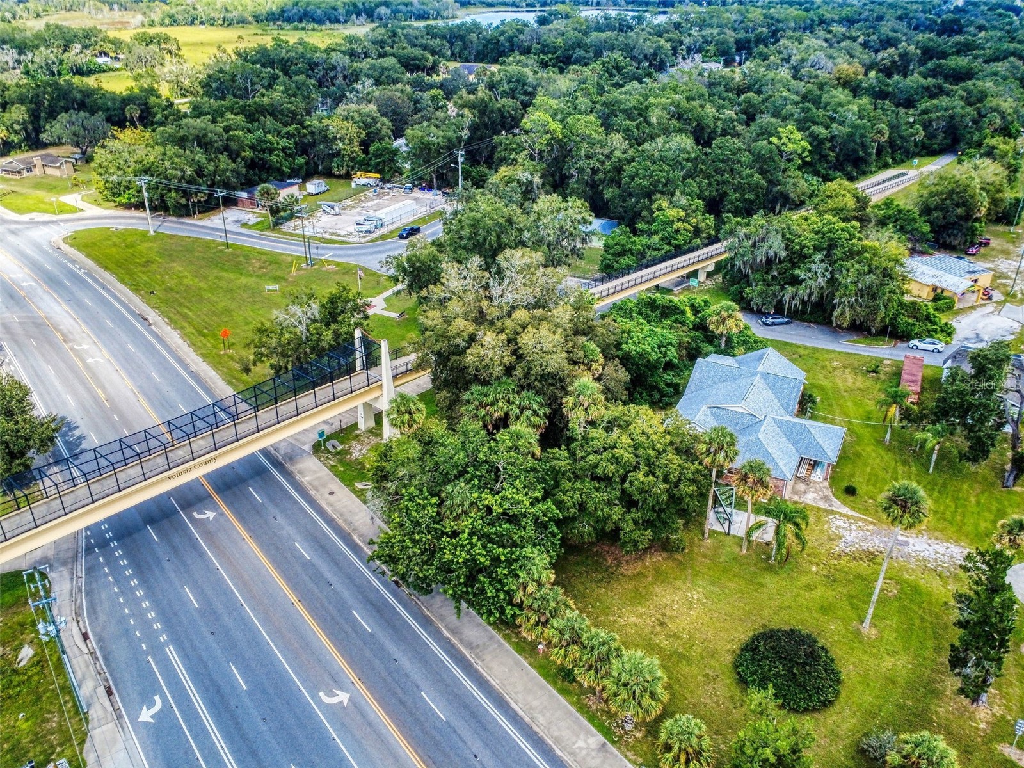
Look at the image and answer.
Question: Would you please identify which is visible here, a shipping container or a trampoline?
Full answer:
Visible in the photo is a shipping container.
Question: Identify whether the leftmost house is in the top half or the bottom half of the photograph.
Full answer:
The leftmost house is in the top half of the image.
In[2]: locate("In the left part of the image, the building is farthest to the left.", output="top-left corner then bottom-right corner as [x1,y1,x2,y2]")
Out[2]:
[0,151,76,185]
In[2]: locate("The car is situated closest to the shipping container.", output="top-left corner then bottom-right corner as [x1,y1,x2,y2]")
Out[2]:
[909,339,946,354]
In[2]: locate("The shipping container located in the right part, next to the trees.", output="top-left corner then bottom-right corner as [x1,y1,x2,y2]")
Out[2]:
[901,350,929,403]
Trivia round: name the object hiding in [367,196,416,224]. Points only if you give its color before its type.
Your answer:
white trailer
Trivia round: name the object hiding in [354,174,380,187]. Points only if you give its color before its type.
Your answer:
white vehicle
